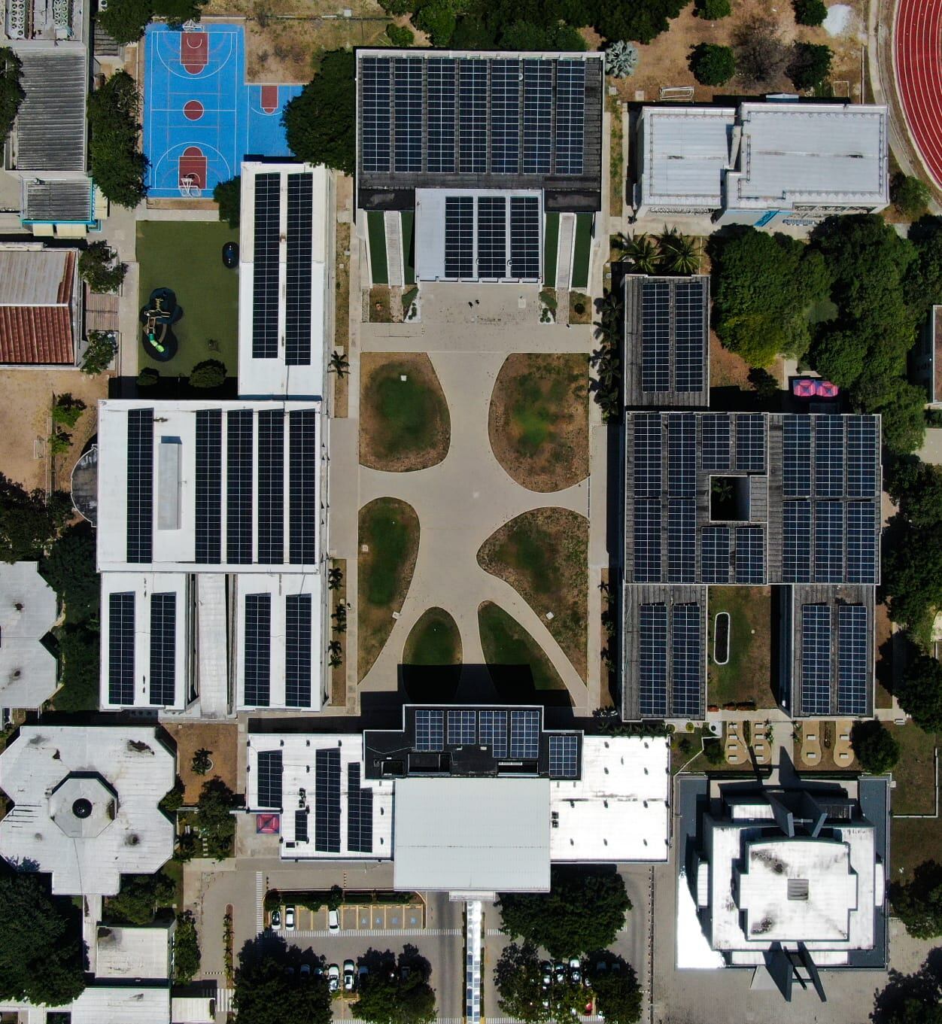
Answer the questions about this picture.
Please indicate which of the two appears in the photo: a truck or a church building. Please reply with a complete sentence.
Of the two, only a church building appears.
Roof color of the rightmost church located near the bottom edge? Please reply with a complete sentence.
From above, the roof of the rightmost church located near the bottom edge looks white.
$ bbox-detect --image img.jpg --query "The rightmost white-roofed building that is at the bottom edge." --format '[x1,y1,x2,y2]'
[693,778,885,1002]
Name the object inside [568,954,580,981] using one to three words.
vehicle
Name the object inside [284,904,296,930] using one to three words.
vehicle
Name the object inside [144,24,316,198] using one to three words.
sports court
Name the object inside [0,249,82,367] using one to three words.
house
